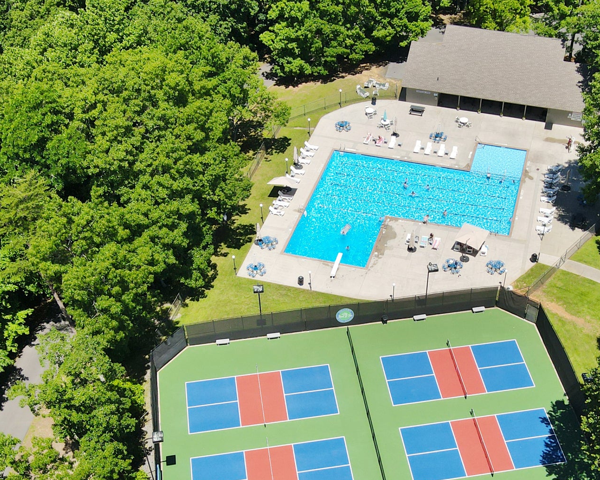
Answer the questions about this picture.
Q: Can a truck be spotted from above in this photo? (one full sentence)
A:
No, no truck can be seen from above.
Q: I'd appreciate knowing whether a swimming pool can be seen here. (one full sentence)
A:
Yes, the frame does contain a swimming pool.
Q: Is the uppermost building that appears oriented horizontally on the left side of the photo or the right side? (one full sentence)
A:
It is on the right.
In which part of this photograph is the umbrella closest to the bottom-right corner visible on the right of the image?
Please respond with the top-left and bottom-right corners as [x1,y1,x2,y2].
[453,223,490,263]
